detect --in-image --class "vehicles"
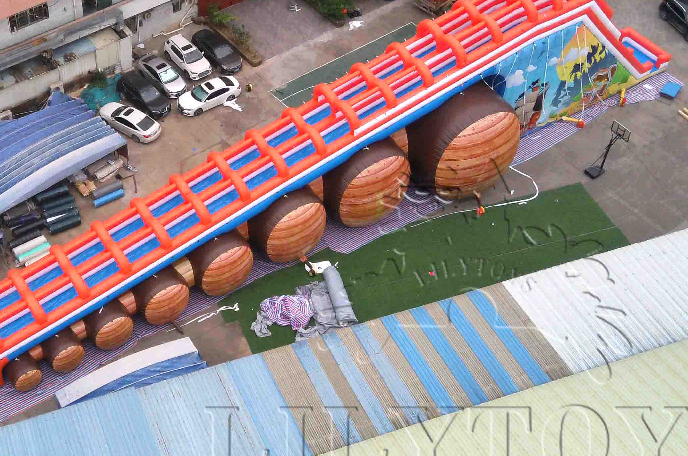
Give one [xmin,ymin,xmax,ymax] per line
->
[157,31,212,84]
[131,51,186,100]
[96,105,166,150]
[188,27,243,77]
[347,3,366,17]
[111,66,171,121]
[175,75,245,117]
[656,0,688,38]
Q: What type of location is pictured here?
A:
industrial area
